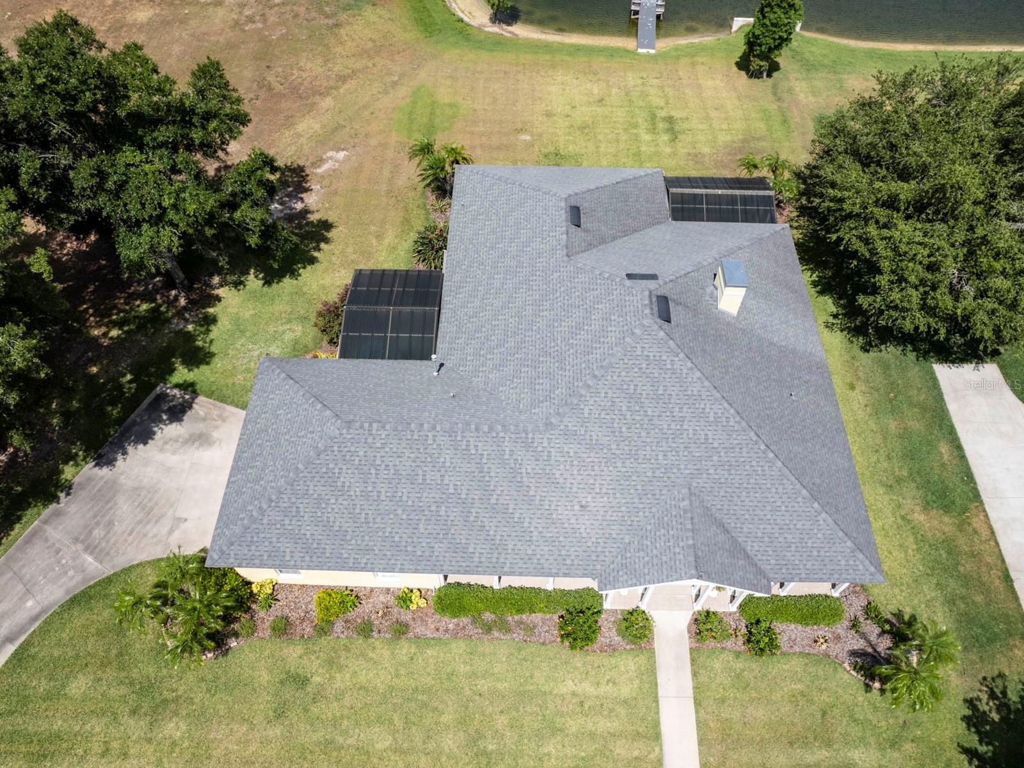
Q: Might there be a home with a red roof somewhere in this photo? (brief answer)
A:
No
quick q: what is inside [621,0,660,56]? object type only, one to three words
pier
